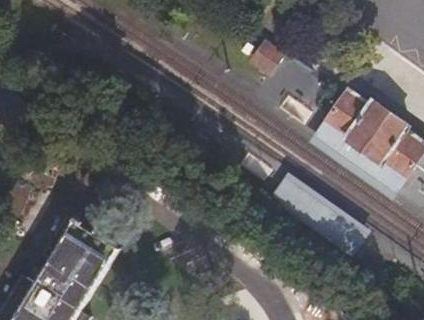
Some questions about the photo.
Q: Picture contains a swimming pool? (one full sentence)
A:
No, I find no swimming pool anywhere in the image.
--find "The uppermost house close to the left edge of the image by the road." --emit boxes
[11,176,56,218]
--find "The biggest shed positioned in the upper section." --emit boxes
[249,40,285,77]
